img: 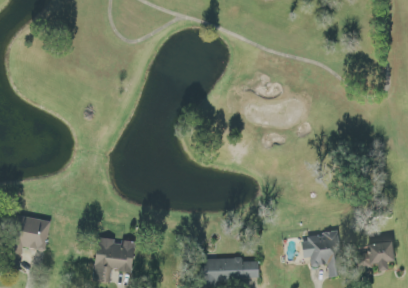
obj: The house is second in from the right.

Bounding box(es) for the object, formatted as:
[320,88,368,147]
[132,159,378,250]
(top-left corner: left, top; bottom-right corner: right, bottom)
[302,232,338,278]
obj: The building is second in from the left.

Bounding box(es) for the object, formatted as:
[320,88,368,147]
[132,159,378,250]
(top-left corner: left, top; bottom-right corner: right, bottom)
[95,237,135,283]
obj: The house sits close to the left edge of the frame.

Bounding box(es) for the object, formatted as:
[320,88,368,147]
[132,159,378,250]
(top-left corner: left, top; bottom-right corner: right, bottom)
[14,216,50,254]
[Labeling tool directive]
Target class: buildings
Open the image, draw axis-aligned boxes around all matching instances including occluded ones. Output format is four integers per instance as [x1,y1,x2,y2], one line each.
[205,258,258,282]
[302,232,338,278]
[14,216,50,254]
[95,237,135,283]
[358,240,396,272]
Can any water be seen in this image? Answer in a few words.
Yes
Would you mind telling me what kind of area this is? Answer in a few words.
golf course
